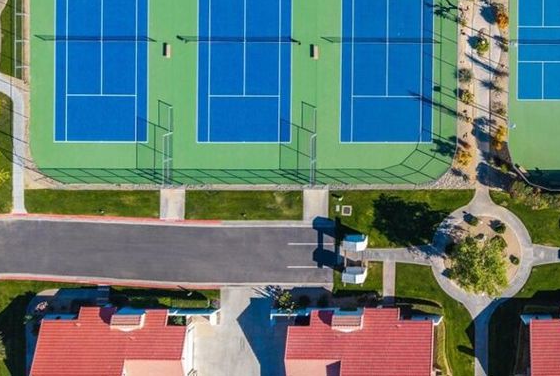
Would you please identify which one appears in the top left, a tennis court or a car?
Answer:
tennis court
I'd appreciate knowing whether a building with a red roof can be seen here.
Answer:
Yes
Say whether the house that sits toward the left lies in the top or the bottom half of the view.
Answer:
bottom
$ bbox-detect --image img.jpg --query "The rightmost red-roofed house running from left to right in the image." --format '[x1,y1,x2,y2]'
[283,304,435,376]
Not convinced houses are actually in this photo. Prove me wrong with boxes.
[527,314,560,376]
[283,304,435,376]
[29,304,196,376]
